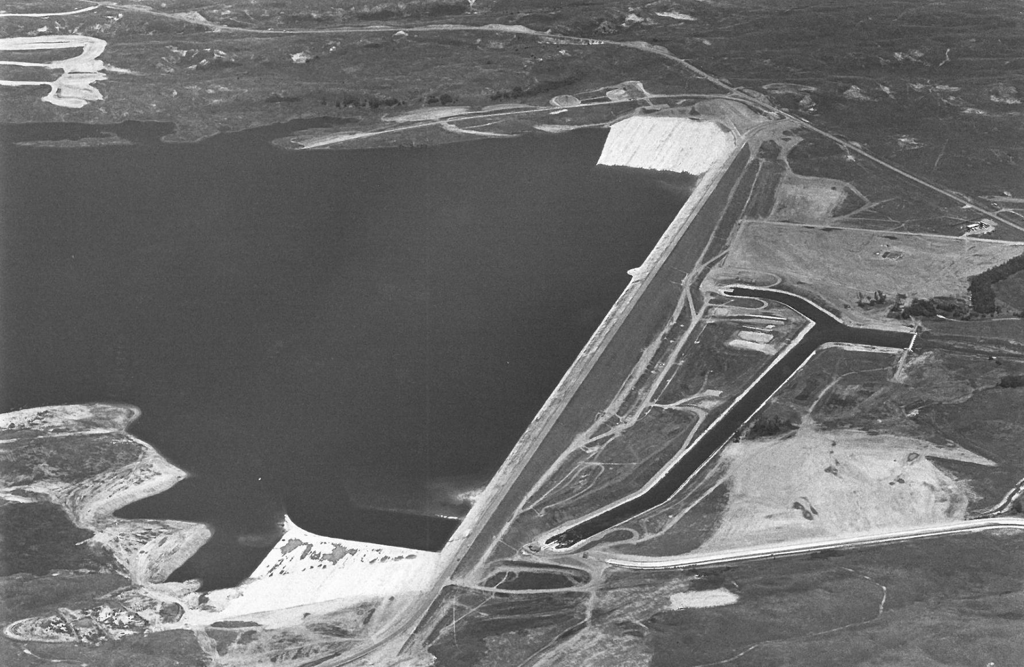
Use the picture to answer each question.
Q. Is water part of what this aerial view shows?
Yes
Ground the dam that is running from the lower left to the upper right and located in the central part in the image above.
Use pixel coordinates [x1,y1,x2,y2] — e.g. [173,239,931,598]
[390,142,751,667]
